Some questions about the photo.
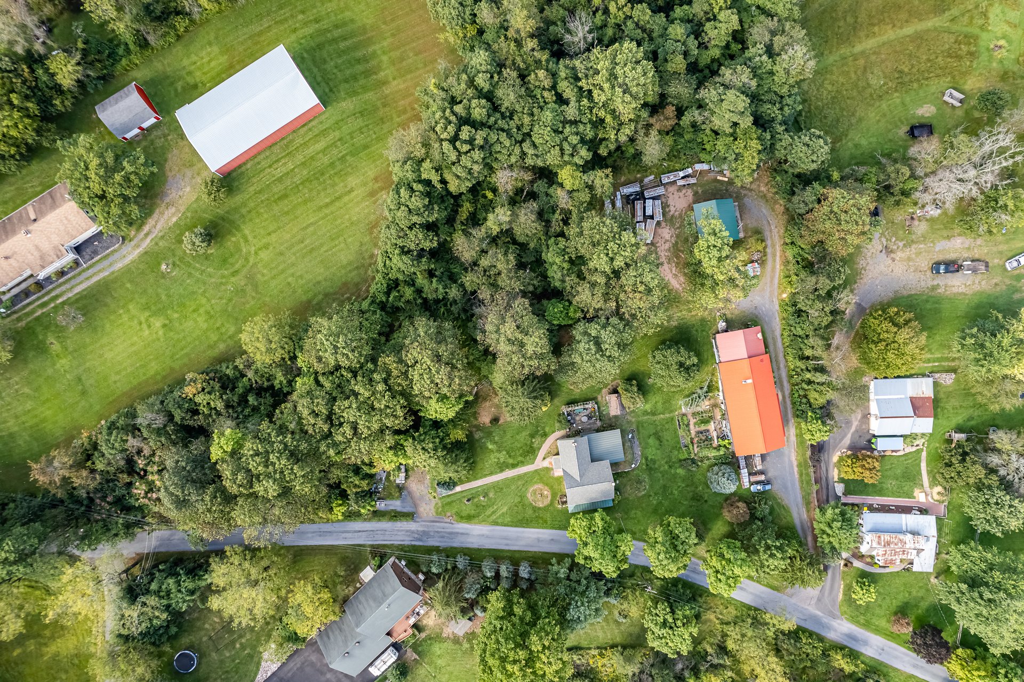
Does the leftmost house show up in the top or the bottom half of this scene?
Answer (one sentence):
The leftmost house is in the top half of the image.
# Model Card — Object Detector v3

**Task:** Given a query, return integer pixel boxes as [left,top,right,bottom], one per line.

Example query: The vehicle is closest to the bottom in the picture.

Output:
[366,649,398,682]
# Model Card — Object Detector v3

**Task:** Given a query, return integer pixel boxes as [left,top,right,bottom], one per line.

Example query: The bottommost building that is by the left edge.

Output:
[0,181,101,289]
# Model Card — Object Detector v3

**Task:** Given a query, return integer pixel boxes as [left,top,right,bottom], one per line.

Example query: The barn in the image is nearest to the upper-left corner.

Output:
[97,82,162,143]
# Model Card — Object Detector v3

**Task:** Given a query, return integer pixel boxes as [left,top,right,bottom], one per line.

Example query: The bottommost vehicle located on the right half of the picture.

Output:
[751,481,774,493]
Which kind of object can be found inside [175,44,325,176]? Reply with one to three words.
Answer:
barn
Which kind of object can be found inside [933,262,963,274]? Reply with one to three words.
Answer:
vehicle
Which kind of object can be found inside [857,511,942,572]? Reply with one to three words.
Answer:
house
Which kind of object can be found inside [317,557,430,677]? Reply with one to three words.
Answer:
house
